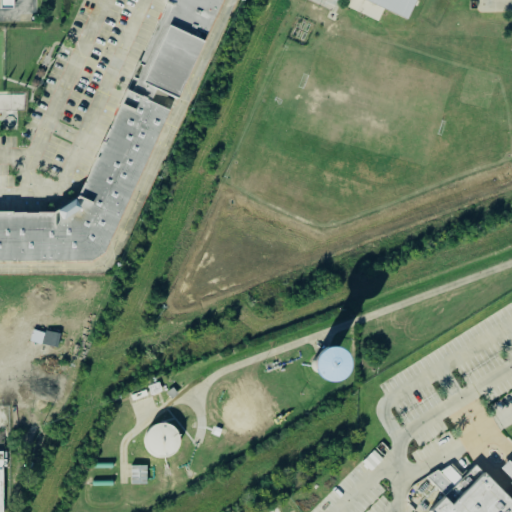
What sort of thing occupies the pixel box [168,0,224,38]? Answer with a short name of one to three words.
building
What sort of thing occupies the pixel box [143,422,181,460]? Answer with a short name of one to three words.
storage tank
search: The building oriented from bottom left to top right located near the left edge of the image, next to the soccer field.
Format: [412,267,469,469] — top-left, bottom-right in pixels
[0,91,170,261]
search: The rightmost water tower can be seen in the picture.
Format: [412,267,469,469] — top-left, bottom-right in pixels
[312,346,353,382]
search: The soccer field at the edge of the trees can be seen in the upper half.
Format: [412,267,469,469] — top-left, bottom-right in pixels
[226,26,507,223]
